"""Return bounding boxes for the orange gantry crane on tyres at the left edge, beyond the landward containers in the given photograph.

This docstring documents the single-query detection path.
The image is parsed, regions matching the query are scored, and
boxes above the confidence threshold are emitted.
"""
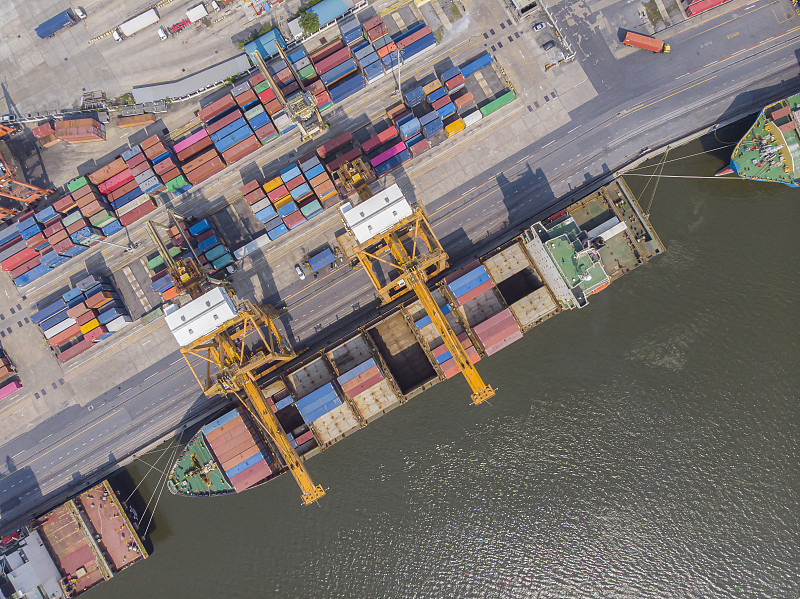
[0,153,59,209]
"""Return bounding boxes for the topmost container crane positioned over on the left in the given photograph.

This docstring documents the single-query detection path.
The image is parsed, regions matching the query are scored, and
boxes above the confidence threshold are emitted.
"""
[251,37,331,144]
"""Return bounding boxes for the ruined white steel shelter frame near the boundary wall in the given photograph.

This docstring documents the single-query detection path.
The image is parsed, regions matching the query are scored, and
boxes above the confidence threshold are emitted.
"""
[73,86,105,109]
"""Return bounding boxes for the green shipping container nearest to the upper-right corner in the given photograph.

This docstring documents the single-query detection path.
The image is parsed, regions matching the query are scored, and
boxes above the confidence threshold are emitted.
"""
[478,89,516,117]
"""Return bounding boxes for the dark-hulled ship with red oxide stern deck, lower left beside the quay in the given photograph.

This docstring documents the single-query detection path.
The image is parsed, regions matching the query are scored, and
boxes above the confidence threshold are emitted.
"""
[0,480,152,599]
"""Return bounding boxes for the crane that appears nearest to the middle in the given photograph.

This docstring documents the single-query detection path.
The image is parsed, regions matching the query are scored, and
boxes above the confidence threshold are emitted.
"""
[332,151,496,400]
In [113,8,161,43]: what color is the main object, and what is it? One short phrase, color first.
white truck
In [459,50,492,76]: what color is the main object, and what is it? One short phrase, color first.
blue shipping container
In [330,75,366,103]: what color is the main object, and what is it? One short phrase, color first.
blue shipping container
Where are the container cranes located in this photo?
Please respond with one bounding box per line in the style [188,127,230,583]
[158,253,322,503]
[251,37,331,144]
[146,205,239,291]
[332,151,496,400]
[0,153,59,209]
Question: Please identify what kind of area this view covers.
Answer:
port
